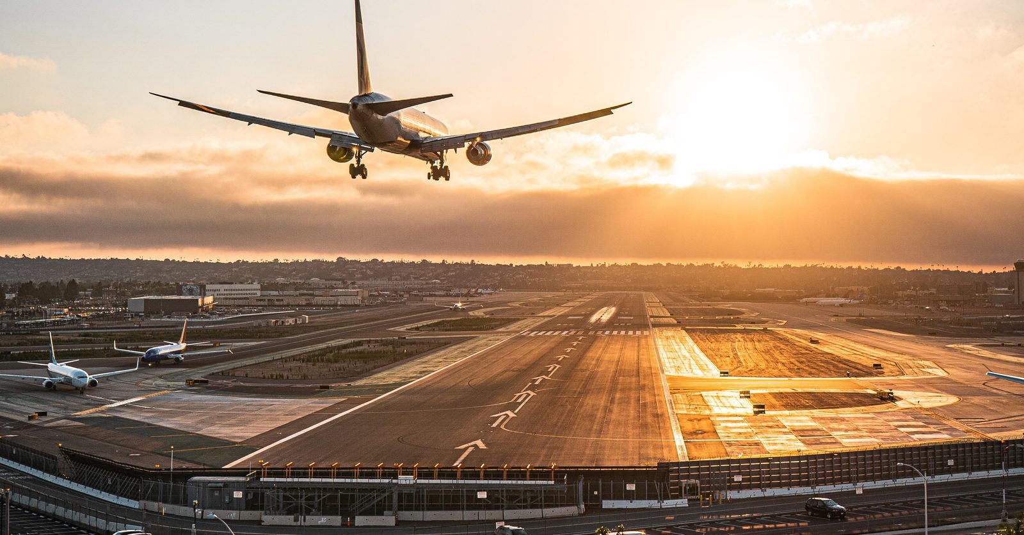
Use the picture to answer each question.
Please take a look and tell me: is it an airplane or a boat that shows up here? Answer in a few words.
airplane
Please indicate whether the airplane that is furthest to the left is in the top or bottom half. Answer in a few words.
bottom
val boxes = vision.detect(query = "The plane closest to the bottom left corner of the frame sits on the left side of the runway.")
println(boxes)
[0,332,138,392]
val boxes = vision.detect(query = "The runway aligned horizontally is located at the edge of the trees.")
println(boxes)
[200,293,705,500]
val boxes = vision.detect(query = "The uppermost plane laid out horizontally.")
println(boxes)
[150,0,636,181]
